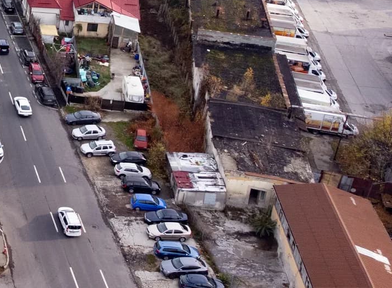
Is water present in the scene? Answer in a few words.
No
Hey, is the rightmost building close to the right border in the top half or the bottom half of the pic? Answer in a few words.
bottom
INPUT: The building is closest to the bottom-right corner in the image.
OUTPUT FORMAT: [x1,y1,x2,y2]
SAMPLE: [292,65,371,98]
[270,179,392,288]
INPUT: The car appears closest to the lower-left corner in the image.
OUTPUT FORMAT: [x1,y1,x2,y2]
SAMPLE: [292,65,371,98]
[55,206,82,237]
